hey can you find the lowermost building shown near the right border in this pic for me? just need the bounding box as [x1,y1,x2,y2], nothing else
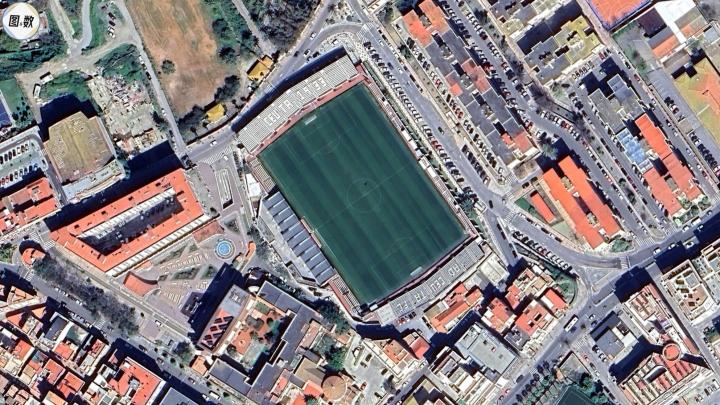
[618,353,702,405]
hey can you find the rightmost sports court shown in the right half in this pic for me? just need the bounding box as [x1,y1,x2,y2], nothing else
[593,0,652,31]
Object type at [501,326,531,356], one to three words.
building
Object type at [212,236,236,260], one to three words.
fountain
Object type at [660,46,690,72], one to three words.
shed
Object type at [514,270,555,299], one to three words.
house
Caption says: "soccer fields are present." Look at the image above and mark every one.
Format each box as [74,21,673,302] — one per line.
[252,73,472,314]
